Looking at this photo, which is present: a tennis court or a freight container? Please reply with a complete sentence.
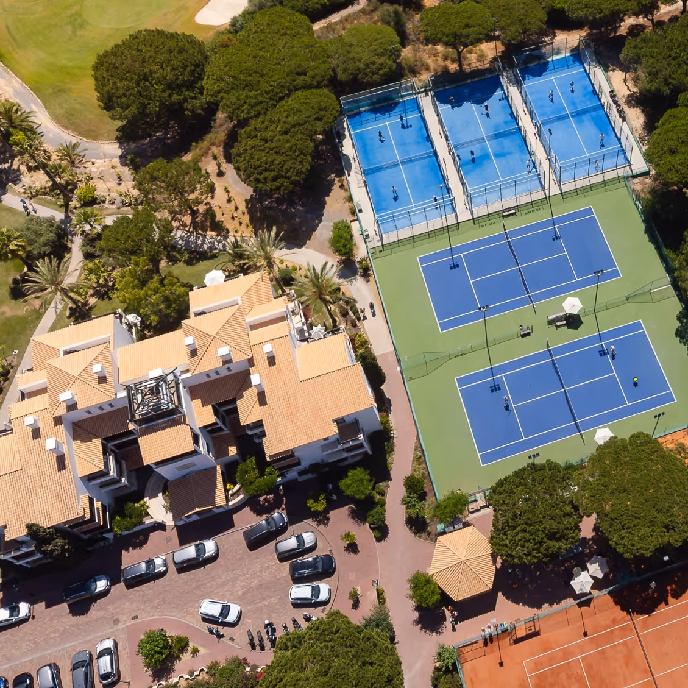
Of the two, only a tennis court appears.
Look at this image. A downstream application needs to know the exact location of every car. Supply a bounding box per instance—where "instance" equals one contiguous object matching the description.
[171,539,217,569]
[0,600,30,626]
[7,669,35,688]
[61,574,107,605]
[287,581,330,605]
[195,598,242,626]
[35,659,61,688]
[92,637,118,687]
[273,531,317,559]
[288,552,334,578]
[119,555,165,584]
[68,649,94,688]
[240,512,287,548]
